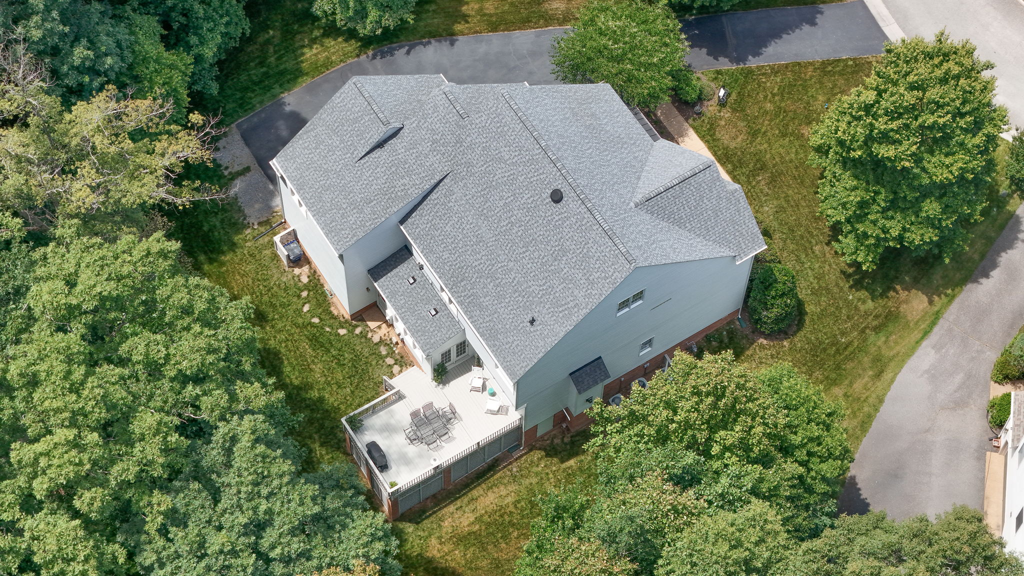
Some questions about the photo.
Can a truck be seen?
No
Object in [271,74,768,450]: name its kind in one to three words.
house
